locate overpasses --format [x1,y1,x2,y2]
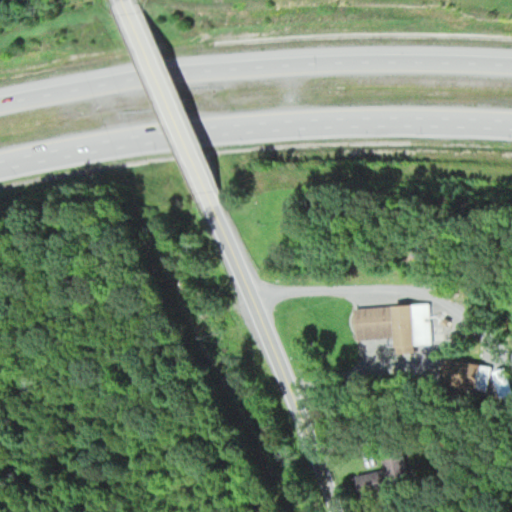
[108,0,224,212]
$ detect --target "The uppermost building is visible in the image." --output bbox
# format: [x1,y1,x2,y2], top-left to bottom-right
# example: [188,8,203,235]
[354,303,433,354]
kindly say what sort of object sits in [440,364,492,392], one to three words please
house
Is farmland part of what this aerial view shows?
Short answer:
No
